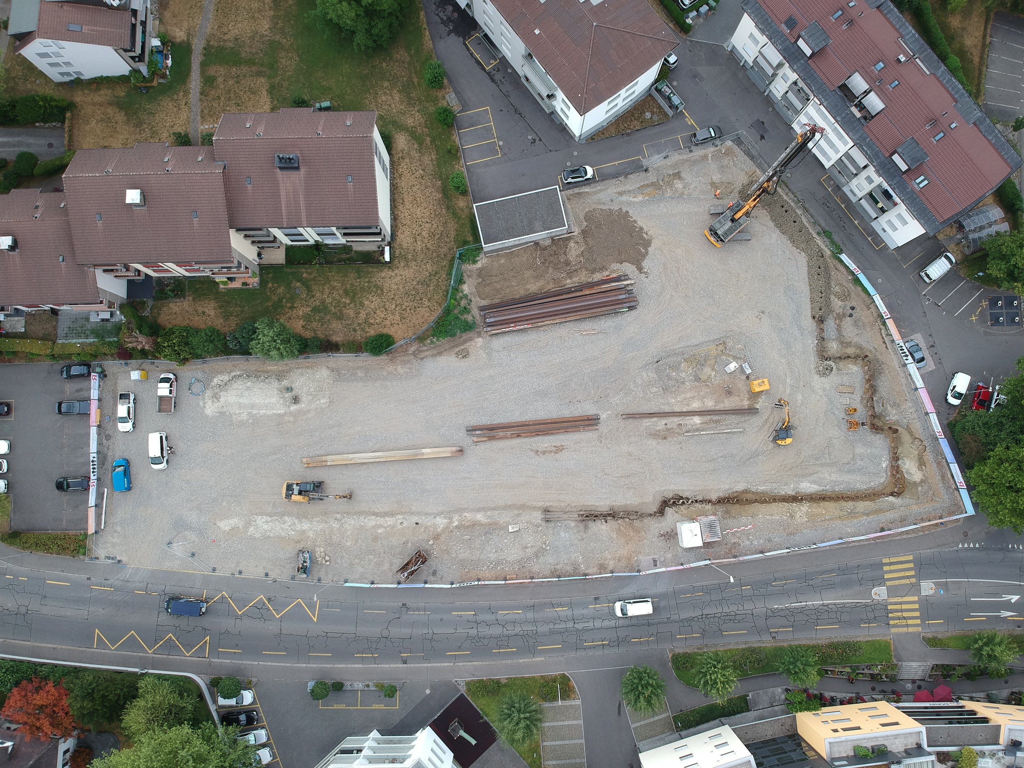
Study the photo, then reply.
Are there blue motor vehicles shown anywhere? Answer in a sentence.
Yes, the photo shows a blue motor vehicle.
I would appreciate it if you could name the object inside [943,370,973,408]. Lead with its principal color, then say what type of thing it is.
white van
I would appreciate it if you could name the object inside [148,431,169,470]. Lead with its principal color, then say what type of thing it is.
white vehicle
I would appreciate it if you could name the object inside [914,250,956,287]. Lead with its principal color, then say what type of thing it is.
white van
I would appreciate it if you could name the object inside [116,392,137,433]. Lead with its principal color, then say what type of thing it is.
white truck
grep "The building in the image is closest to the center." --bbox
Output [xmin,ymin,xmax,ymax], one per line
[467,184,569,255]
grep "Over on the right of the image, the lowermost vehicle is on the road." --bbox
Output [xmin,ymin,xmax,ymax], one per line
[613,598,653,618]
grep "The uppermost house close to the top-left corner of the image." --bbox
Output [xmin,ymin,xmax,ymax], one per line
[8,0,157,82]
